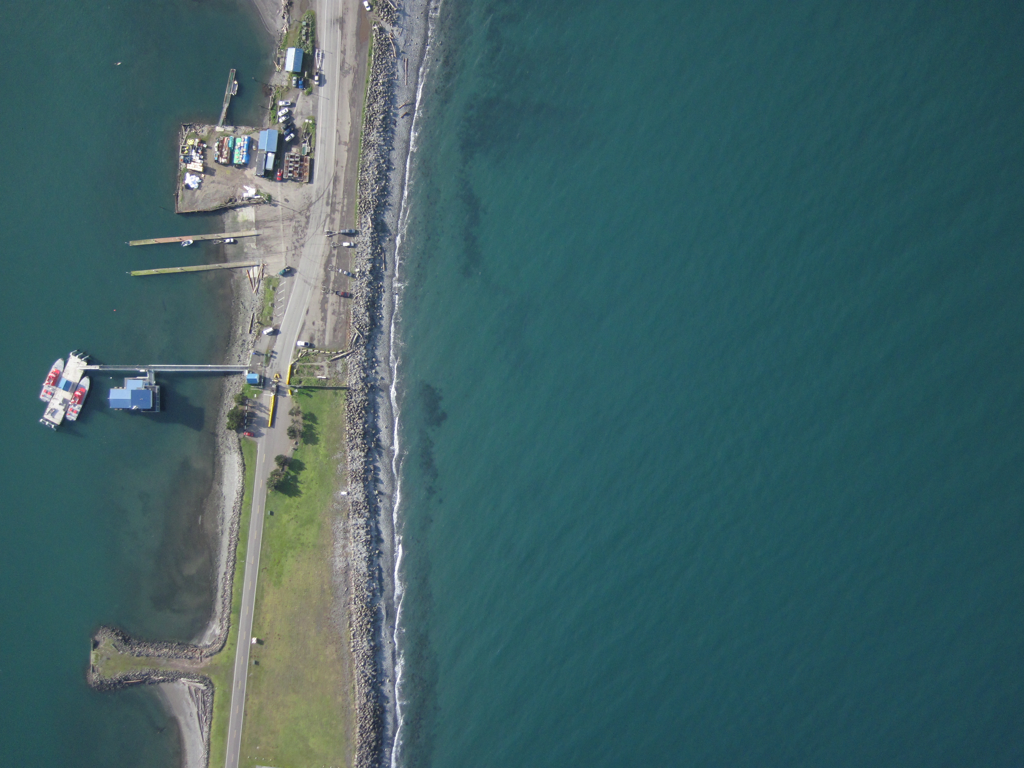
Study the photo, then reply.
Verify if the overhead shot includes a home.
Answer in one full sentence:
Yes, this view includes a home.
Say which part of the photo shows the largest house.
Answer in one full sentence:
The largest house is located in the left region of the scene.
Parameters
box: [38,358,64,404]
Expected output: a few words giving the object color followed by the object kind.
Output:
white boat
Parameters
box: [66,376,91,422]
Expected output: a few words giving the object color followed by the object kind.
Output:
white boat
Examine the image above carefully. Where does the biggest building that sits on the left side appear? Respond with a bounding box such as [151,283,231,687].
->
[108,378,160,412]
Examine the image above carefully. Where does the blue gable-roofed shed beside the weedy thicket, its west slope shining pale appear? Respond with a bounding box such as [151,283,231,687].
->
[285,48,305,74]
